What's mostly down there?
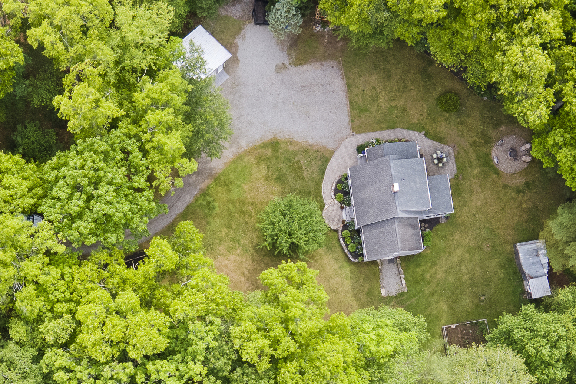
trees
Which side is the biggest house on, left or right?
right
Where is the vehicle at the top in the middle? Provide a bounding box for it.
[255,0,270,28]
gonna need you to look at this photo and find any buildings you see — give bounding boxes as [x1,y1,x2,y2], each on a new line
[514,239,555,298]
[173,26,235,93]
[347,141,454,262]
